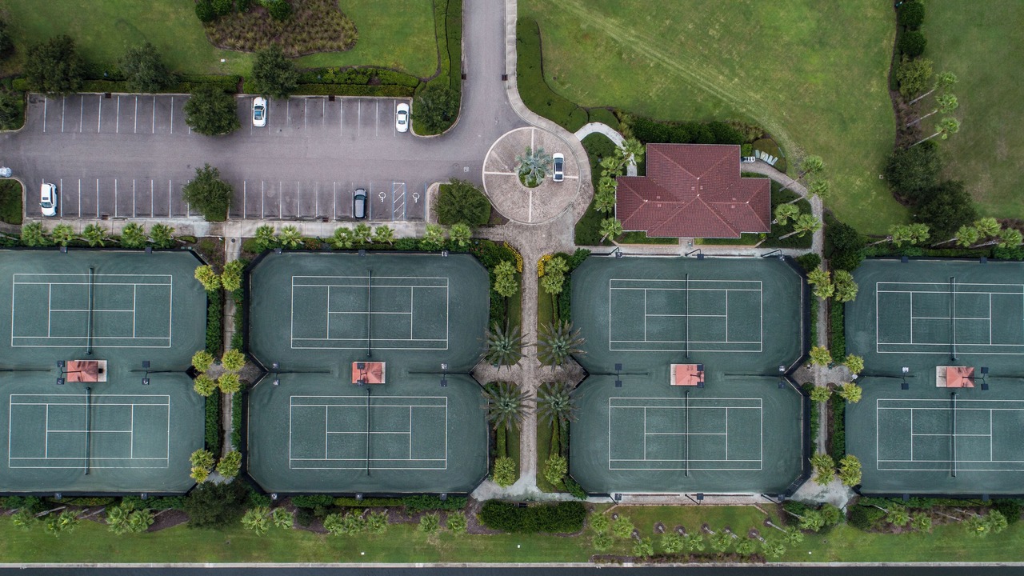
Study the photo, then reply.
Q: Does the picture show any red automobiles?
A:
No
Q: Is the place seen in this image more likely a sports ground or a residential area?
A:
sports ground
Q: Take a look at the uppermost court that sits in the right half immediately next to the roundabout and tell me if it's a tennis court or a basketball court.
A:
tennis court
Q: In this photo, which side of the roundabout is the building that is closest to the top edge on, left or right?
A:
right of it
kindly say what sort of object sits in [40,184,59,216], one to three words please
car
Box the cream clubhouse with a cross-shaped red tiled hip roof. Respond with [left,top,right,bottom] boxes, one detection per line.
[615,143,771,239]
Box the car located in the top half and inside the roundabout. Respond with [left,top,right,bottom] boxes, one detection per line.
[551,153,565,182]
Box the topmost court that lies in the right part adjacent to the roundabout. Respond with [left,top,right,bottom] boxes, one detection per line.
[573,256,803,374]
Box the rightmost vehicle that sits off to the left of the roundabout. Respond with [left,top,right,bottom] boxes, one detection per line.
[395,104,409,133]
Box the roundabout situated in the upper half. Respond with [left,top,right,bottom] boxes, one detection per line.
[478,123,583,227]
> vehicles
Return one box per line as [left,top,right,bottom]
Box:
[551,153,565,182]
[395,104,409,133]
[353,189,368,219]
[252,98,268,128]
[40,184,59,216]
[0,166,12,179]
